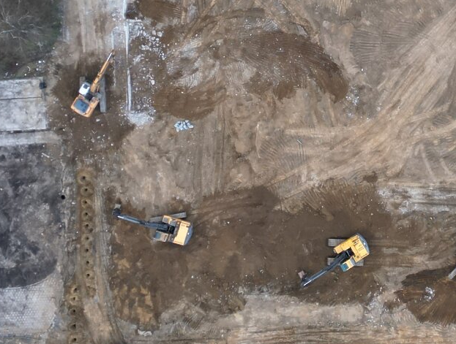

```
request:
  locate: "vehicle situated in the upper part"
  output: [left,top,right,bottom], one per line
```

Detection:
[66,42,124,120]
